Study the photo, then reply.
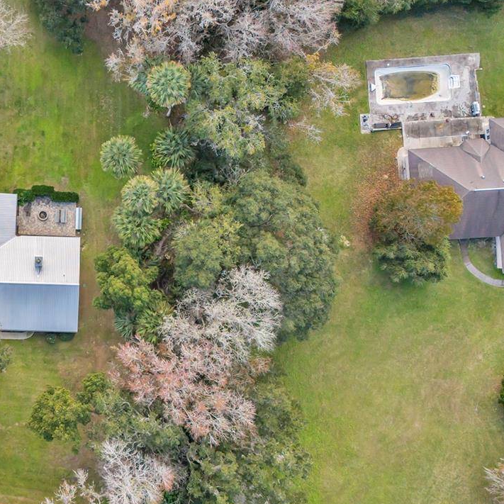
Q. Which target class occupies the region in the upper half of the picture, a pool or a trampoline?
pool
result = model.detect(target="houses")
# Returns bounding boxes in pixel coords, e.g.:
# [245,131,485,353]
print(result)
[0,194,80,332]
[402,117,504,275]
